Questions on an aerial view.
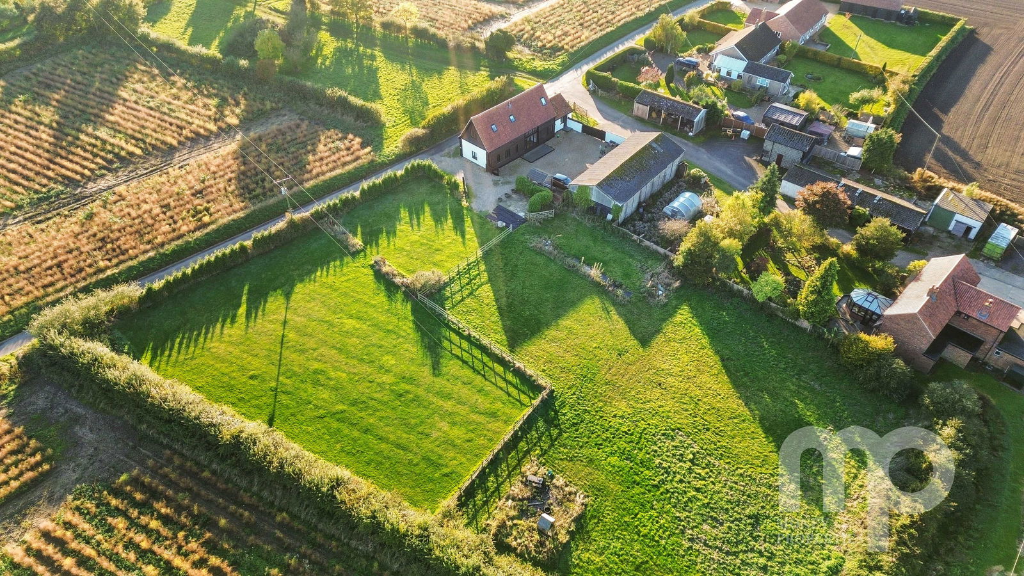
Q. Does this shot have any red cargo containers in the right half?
No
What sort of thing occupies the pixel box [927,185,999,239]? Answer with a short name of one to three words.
barn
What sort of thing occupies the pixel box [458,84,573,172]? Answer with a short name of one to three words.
house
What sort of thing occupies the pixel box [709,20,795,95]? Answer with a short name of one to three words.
house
